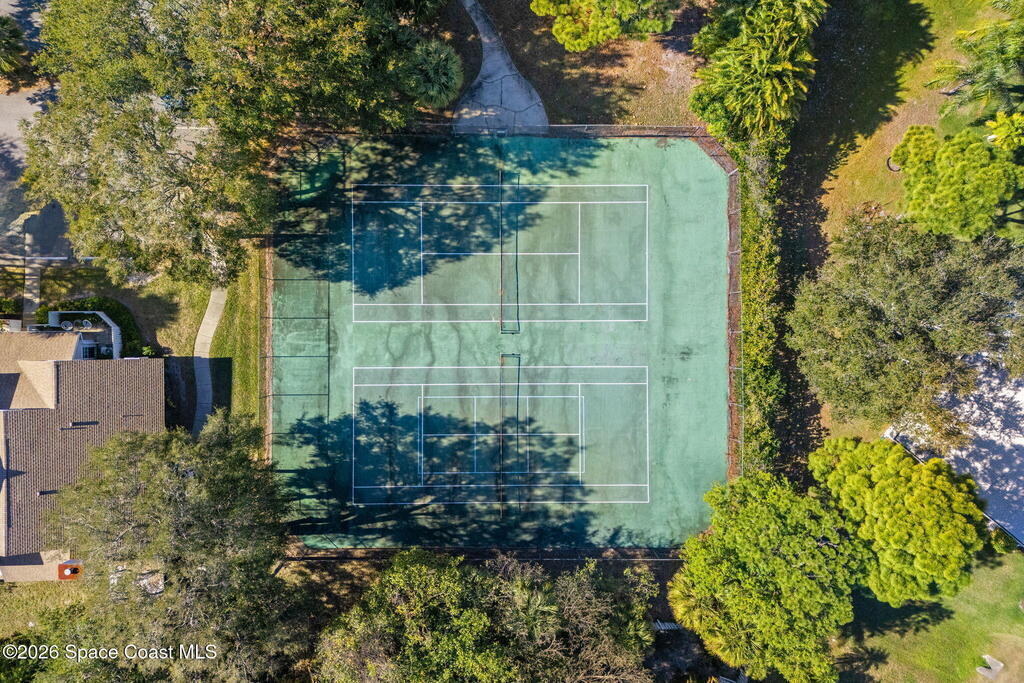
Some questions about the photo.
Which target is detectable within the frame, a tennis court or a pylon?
tennis court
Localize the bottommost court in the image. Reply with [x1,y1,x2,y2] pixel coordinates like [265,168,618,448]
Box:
[272,344,729,548]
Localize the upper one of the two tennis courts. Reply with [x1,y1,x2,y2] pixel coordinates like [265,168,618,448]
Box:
[272,136,729,344]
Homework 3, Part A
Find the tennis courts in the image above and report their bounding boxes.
[272,344,729,548]
[272,136,729,344]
